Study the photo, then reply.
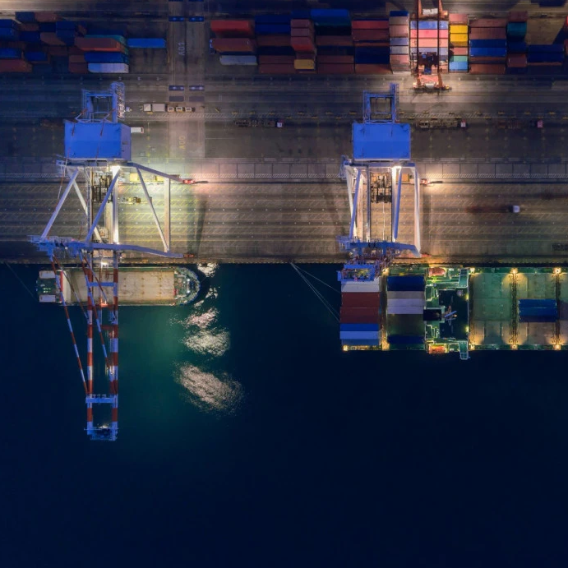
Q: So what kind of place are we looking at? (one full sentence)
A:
What you see here is a port.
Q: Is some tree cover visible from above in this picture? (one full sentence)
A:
No, no tree cover is visible.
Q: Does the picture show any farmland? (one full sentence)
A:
No, no farmland is visible.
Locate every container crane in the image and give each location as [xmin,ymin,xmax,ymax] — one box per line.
[330,76,434,291]
[407,0,452,93]
[32,76,195,440]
